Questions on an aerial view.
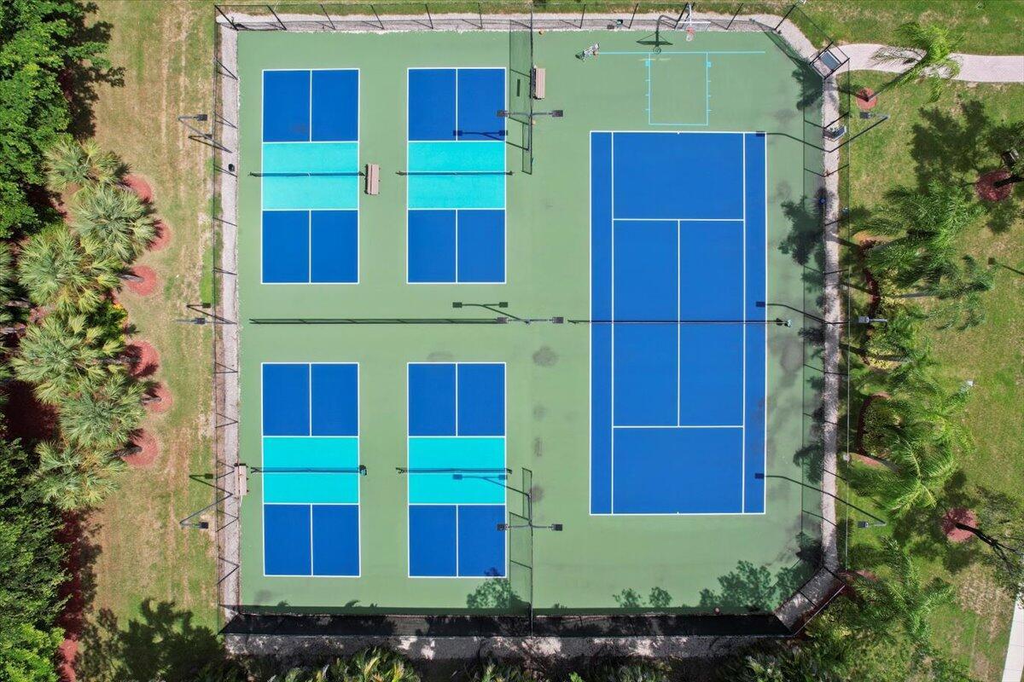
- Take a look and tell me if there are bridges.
No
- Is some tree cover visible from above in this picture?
Yes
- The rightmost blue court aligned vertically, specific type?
tennis court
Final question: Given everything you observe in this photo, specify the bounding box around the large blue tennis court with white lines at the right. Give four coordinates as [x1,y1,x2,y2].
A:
[589,130,767,516]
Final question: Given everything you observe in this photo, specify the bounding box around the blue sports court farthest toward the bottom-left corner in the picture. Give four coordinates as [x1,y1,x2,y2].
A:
[261,363,360,578]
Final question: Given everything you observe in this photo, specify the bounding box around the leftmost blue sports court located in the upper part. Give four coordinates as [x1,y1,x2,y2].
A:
[261,68,360,284]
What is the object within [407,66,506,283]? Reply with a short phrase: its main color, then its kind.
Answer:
blue sports court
